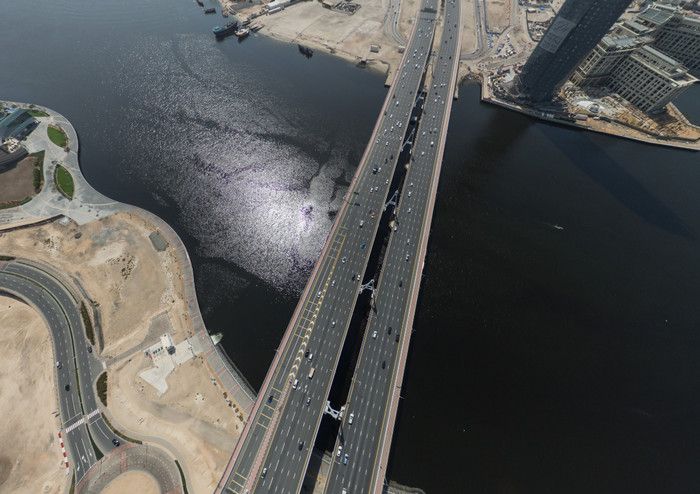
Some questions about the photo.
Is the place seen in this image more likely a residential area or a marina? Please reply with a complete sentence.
The picture captures a marina.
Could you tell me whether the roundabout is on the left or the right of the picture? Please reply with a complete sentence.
It is on the left.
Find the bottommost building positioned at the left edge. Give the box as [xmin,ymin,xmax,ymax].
[0,150,34,179]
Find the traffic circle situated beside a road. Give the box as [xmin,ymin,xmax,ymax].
[69,439,185,494]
